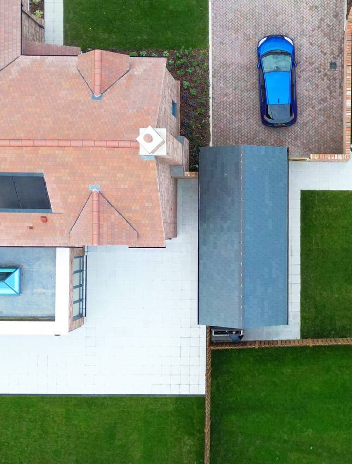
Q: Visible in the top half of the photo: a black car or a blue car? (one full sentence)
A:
There is a blue car in the top half of the photo.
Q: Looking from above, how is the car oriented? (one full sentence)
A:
In this picture, the car lies vertically.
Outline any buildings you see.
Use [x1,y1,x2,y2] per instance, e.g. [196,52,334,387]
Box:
[197,145,289,328]
[0,0,189,336]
